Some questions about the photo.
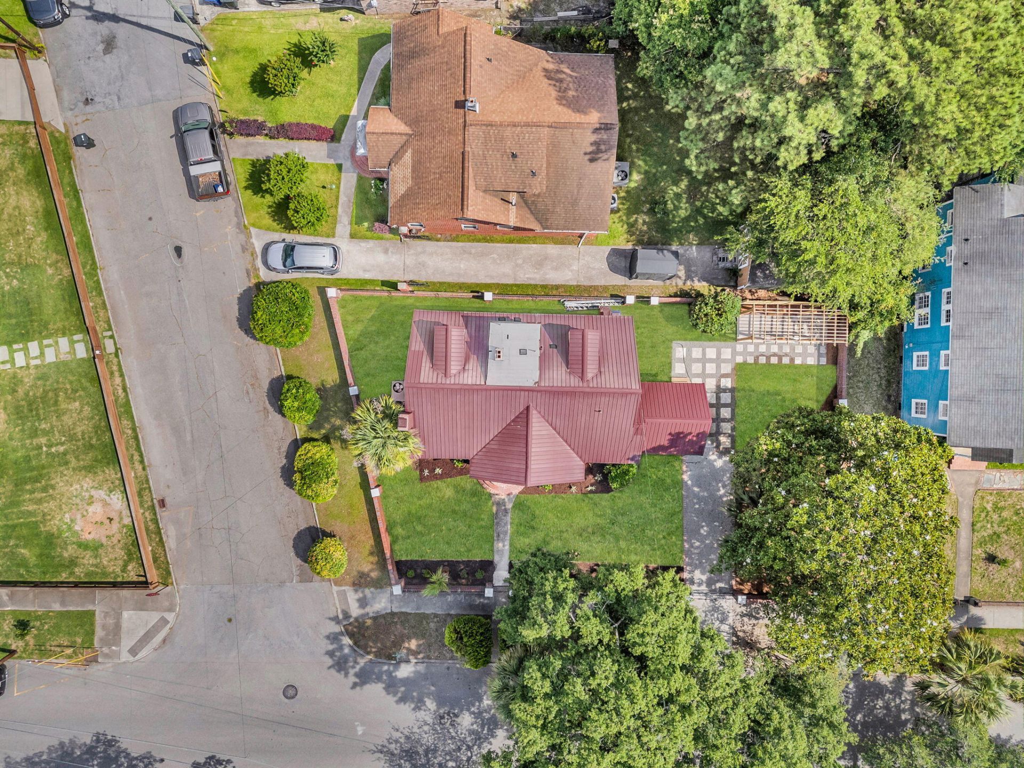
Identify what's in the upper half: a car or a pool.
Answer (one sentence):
The one visible in the upper half is a car.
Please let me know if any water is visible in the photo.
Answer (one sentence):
No, the scene doesn't show any water.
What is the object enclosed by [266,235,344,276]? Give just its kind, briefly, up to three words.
car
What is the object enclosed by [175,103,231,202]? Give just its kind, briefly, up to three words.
truck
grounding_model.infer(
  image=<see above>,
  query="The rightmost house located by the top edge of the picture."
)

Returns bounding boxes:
[352,8,619,249]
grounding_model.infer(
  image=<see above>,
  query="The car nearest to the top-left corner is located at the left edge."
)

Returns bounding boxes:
[27,0,72,28]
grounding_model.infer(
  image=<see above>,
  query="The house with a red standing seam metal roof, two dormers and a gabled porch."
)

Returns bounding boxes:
[397,309,712,495]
